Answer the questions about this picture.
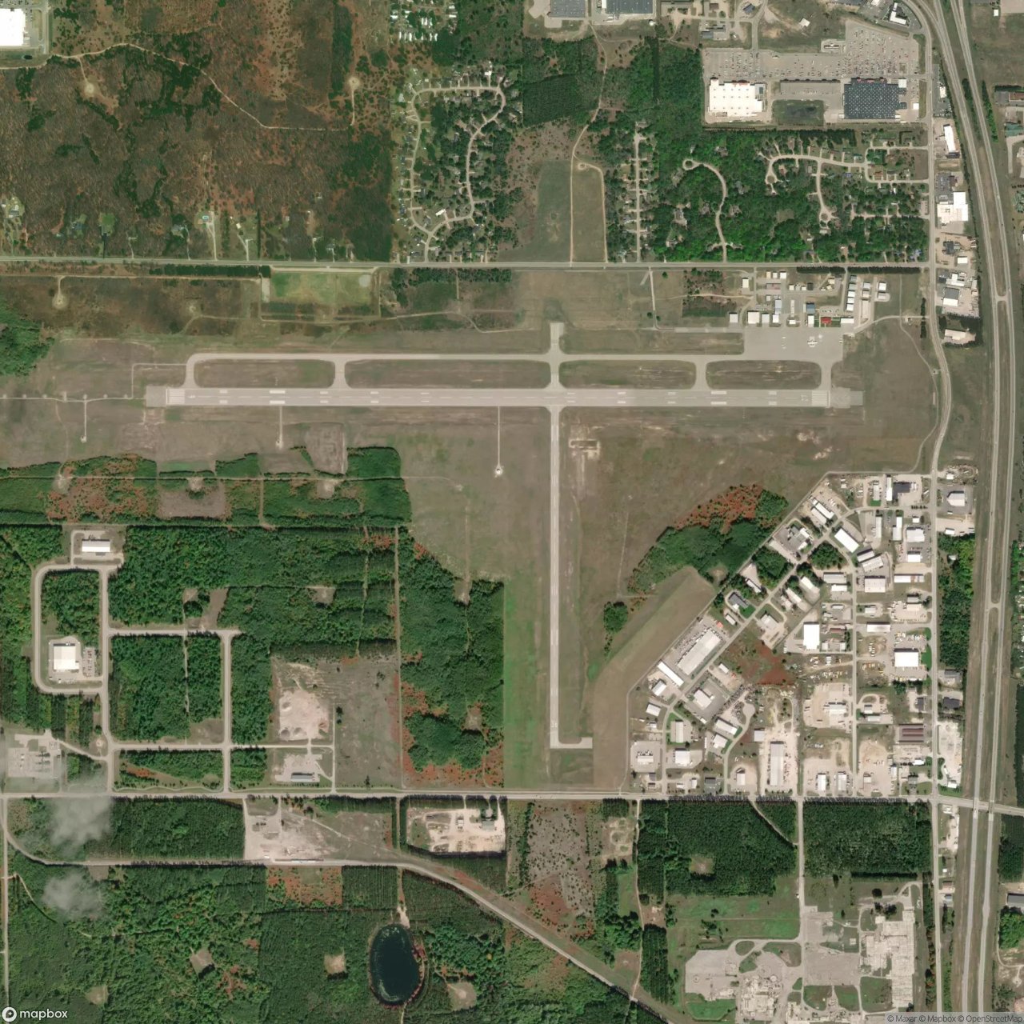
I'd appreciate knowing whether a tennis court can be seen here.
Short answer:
No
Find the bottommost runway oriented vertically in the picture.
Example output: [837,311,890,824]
[545,405,592,749]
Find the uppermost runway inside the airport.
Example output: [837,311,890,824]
[165,388,831,407]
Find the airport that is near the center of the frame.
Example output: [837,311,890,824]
[146,323,863,749]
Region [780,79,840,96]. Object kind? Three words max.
building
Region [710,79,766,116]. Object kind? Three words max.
building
